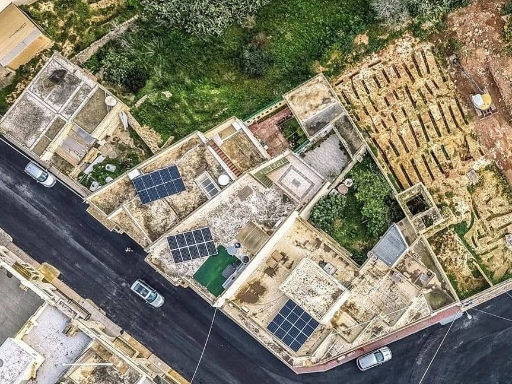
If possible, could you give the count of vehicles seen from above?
4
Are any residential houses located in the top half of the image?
Yes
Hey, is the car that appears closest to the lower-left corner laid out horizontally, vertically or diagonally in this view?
diagonally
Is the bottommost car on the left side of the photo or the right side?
right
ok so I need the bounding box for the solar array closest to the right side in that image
[267,299,319,352]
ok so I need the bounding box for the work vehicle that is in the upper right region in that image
[447,53,498,125]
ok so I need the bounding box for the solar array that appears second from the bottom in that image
[168,226,217,263]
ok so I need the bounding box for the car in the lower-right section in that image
[355,347,392,371]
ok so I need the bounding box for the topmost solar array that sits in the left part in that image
[132,165,186,205]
